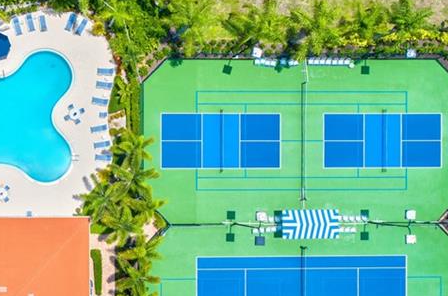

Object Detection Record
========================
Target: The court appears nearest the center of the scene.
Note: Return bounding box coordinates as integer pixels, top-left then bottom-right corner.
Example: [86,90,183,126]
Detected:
[161,114,280,168]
